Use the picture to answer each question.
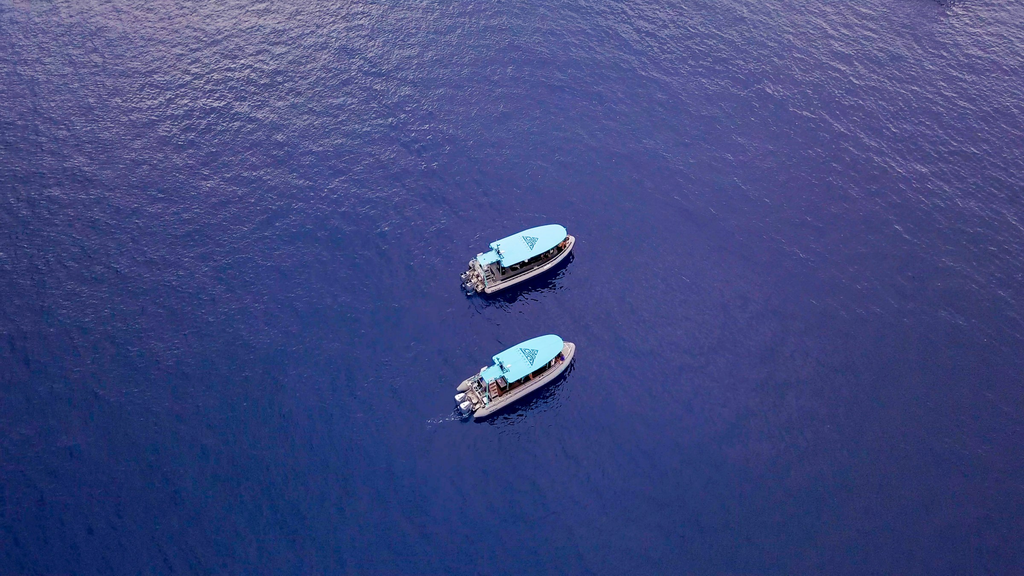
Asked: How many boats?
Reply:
2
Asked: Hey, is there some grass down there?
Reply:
No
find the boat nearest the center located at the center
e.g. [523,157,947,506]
[460,225,575,295]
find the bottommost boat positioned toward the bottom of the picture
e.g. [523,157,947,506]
[454,336,576,418]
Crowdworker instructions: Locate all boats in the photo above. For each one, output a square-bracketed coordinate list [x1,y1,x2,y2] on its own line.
[454,336,576,418]
[460,225,575,295]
